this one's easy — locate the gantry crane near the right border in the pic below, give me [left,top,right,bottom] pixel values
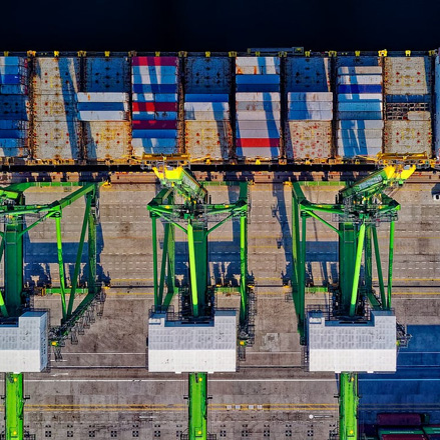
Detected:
[284,152,439,440]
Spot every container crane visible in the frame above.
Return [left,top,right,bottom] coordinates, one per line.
[0,179,106,440]
[284,152,439,440]
[131,152,258,440]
